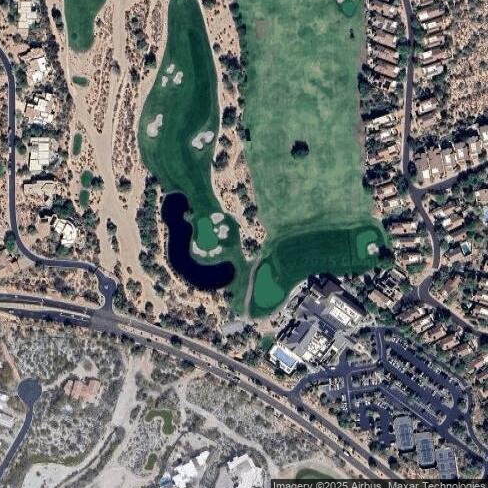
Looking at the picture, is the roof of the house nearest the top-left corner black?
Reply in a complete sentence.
No, the roof of the house nearest the top-left corner is actually white.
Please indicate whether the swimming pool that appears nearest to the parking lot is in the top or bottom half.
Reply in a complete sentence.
The bottom half of the photo is where the swimming pool that appears nearest to the parking lot is.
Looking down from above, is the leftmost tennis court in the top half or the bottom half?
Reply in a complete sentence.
It is in the bottom half that the leftmost tennis court appears.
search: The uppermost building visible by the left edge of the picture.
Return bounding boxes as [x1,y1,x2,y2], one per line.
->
[15,0,37,37]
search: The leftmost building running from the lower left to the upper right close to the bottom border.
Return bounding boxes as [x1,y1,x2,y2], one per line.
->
[171,448,211,488]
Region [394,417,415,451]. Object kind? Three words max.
tennis court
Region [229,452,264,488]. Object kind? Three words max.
house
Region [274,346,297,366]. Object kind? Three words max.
swimming pool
